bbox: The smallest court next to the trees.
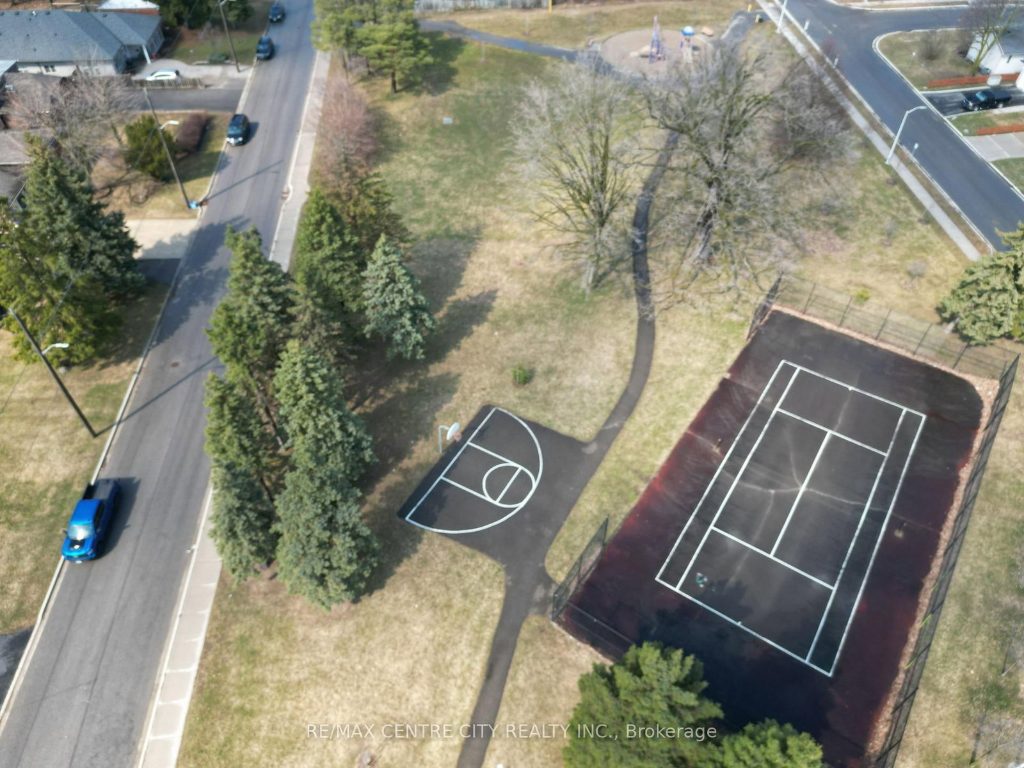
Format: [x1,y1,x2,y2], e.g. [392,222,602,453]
[398,405,611,579]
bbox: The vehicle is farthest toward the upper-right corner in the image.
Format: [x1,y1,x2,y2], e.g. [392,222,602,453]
[961,88,1015,110]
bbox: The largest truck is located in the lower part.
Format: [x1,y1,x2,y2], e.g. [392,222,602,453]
[63,479,126,561]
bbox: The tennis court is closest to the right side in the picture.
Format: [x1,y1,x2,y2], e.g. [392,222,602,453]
[553,309,983,768]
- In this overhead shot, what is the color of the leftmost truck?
blue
